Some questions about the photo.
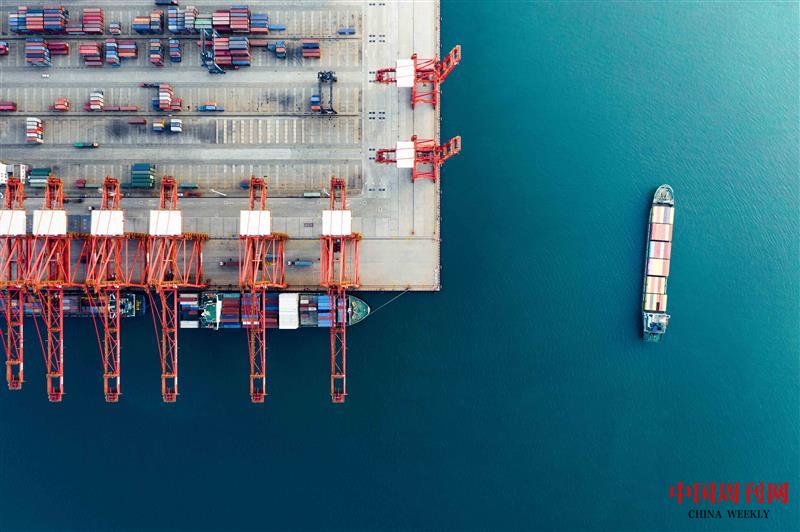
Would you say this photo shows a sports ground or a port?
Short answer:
port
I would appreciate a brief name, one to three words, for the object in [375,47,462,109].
container crane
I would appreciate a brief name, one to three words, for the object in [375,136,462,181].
container crane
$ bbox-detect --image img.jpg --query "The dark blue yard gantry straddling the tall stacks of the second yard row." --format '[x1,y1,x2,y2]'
[201,27,226,73]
